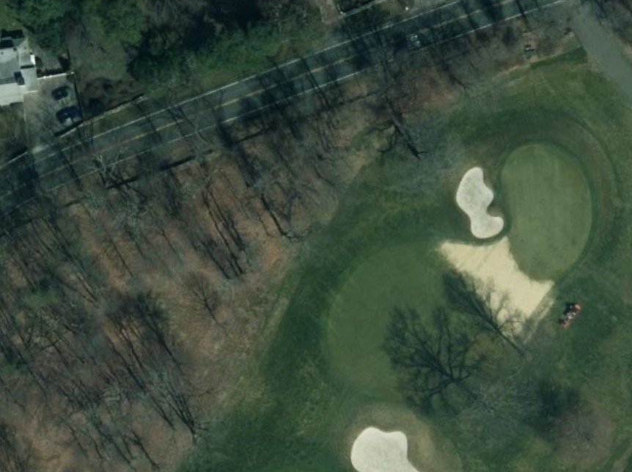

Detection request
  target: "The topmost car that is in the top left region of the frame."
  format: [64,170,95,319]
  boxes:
[49,86,71,99]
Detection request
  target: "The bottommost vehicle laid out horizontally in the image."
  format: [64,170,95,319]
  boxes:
[56,109,80,121]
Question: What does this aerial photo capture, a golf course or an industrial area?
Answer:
golf course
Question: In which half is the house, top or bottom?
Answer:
top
